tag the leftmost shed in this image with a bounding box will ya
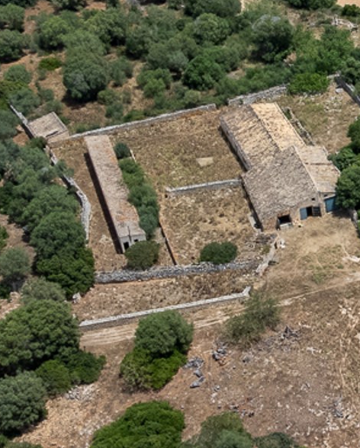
[26,116,76,153]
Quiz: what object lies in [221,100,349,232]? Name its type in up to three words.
barn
